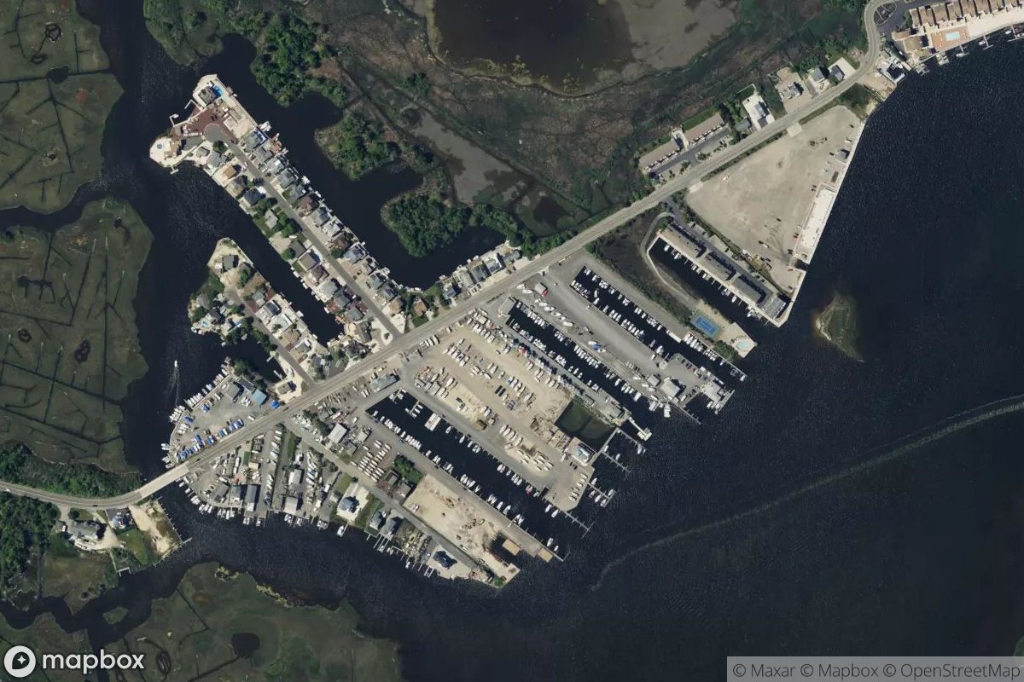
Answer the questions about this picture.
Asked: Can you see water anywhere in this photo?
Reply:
Yes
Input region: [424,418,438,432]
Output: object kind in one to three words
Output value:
ship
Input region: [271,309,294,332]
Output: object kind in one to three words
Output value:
house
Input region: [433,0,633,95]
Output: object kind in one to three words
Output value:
pond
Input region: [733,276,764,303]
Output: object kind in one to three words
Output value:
building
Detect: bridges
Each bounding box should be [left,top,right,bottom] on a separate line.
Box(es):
[139,462,192,499]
